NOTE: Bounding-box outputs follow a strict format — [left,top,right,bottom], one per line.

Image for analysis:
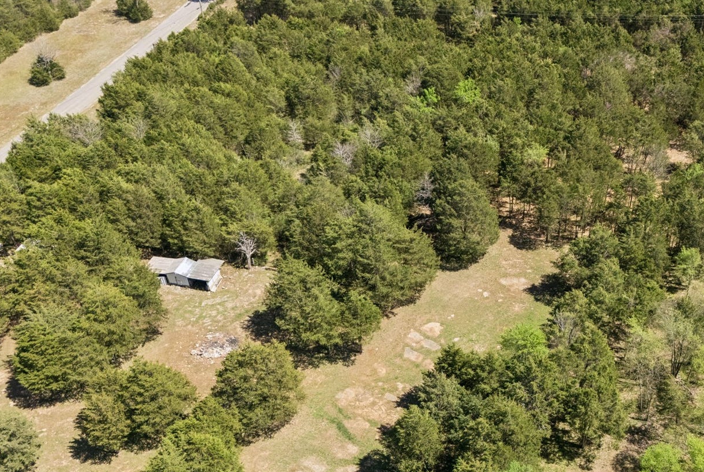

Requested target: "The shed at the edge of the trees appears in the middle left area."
[144,254,231,294]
